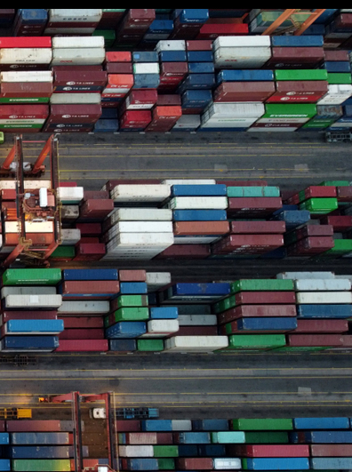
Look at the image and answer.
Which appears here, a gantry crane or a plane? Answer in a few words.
gantry crane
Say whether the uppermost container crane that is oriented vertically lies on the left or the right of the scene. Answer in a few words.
left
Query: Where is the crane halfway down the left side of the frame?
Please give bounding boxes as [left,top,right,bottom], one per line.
[0,133,64,270]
